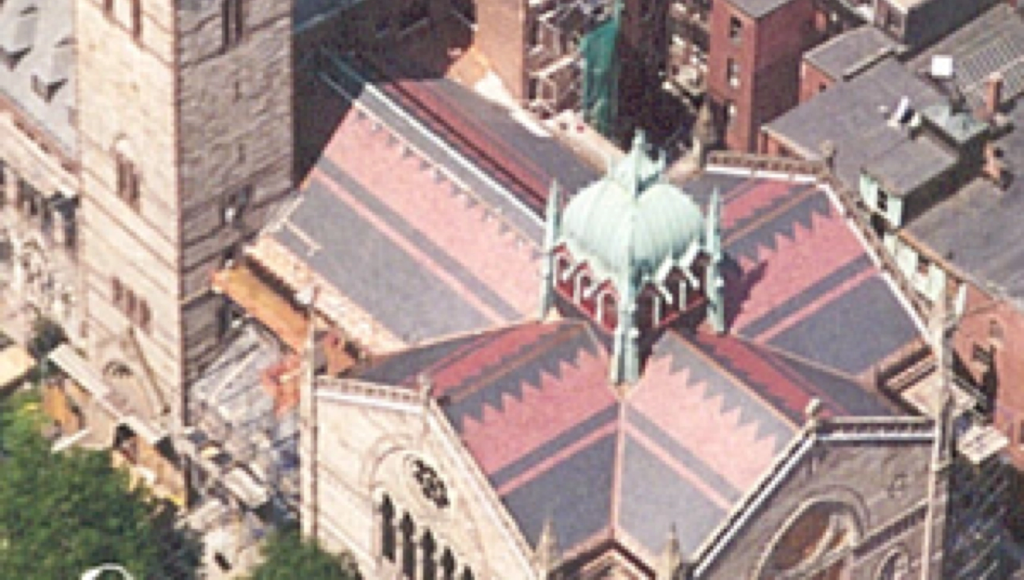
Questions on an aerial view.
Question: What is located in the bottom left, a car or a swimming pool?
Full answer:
You can see a car in the bottom left.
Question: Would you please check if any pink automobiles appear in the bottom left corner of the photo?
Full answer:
No, the scene shows no pink automobile in the bottom left corner of the photo.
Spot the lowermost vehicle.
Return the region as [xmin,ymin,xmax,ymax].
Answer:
[189,533,235,572]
